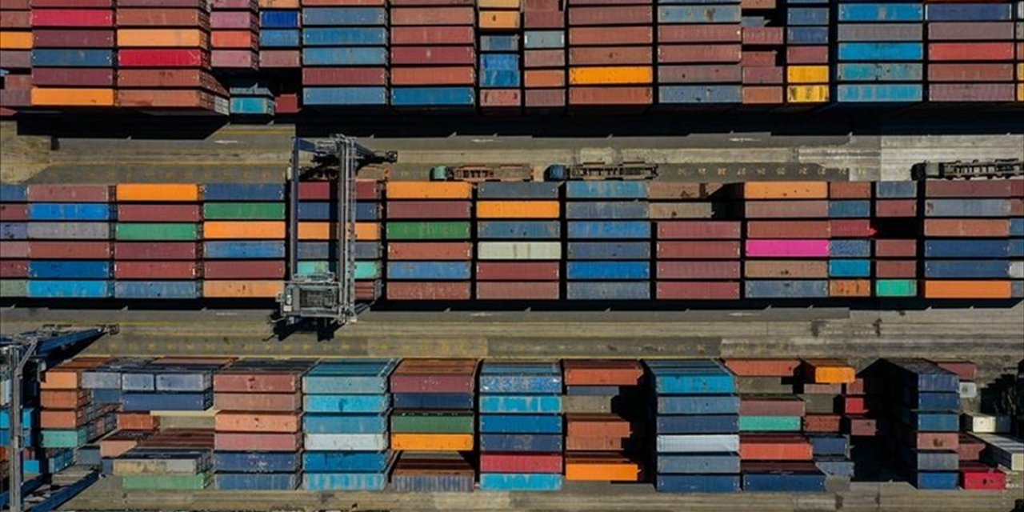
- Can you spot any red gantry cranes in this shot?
No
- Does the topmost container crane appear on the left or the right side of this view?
left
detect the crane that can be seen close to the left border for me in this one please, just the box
[0,322,120,512]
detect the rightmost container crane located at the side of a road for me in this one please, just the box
[274,125,390,329]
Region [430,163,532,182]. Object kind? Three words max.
vehicle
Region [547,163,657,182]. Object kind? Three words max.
vehicle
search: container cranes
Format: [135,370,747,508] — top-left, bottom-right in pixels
[274,125,390,329]
[0,322,120,512]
